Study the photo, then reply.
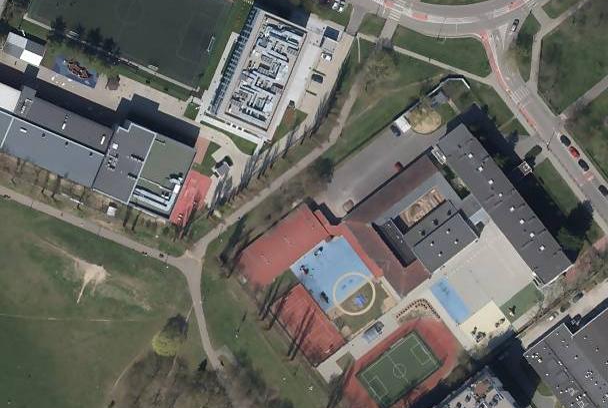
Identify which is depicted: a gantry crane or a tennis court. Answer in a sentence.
This aerial view contains a tennis court.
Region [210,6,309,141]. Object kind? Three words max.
building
